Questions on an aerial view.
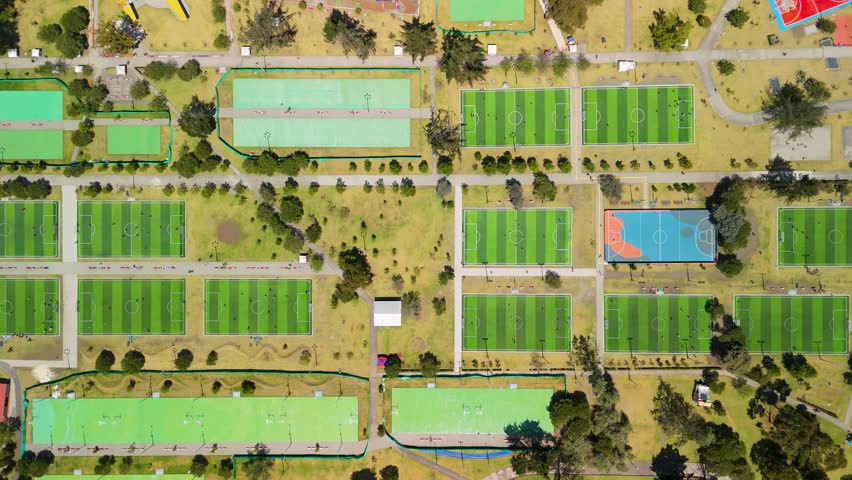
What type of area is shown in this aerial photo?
sports ground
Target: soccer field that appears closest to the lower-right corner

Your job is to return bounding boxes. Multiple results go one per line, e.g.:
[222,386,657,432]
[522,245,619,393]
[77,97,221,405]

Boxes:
[734,295,850,354]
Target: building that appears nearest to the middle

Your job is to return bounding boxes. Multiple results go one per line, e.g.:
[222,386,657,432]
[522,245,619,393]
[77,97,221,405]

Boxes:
[374,300,401,326]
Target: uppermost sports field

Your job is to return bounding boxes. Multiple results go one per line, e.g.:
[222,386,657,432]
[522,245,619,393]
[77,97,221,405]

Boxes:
[450,0,524,21]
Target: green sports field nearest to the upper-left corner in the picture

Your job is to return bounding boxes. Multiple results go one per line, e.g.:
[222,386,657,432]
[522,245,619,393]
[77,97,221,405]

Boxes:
[0,91,63,120]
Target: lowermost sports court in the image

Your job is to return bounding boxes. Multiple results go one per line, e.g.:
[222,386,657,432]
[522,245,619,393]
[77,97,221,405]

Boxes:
[603,210,720,265]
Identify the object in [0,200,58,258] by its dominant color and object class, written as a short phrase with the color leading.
green soccer field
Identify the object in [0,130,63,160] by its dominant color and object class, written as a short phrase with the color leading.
green sports field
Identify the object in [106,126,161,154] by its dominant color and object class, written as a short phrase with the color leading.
green sports field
